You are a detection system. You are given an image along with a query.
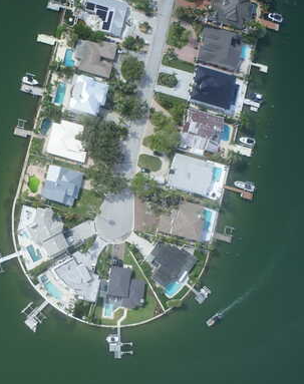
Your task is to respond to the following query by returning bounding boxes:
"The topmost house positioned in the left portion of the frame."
[81,0,132,39]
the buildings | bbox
[81,0,132,39]
[105,267,146,308]
[67,73,110,116]
[54,252,99,301]
[165,153,214,195]
[150,241,197,285]
[21,208,69,257]
[196,27,242,72]
[164,200,205,242]
[178,107,223,152]
[188,65,239,111]
[41,165,84,207]
[47,120,88,163]
[75,39,118,78]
